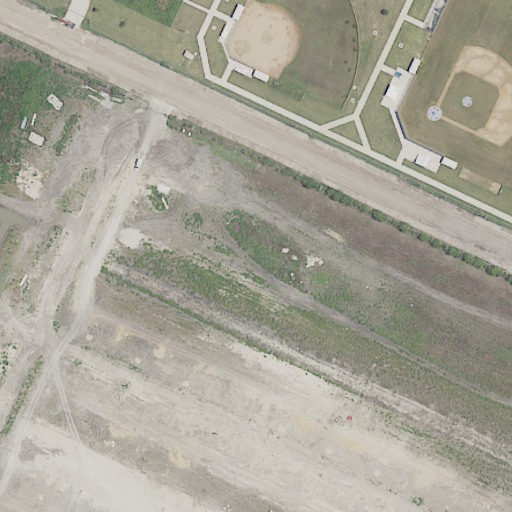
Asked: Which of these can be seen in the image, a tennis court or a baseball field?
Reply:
baseball field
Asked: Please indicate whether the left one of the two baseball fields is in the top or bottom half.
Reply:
top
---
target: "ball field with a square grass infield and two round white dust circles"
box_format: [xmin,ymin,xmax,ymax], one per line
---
[398,0,512,194]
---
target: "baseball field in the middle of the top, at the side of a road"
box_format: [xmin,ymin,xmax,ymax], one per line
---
[227,0,358,108]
